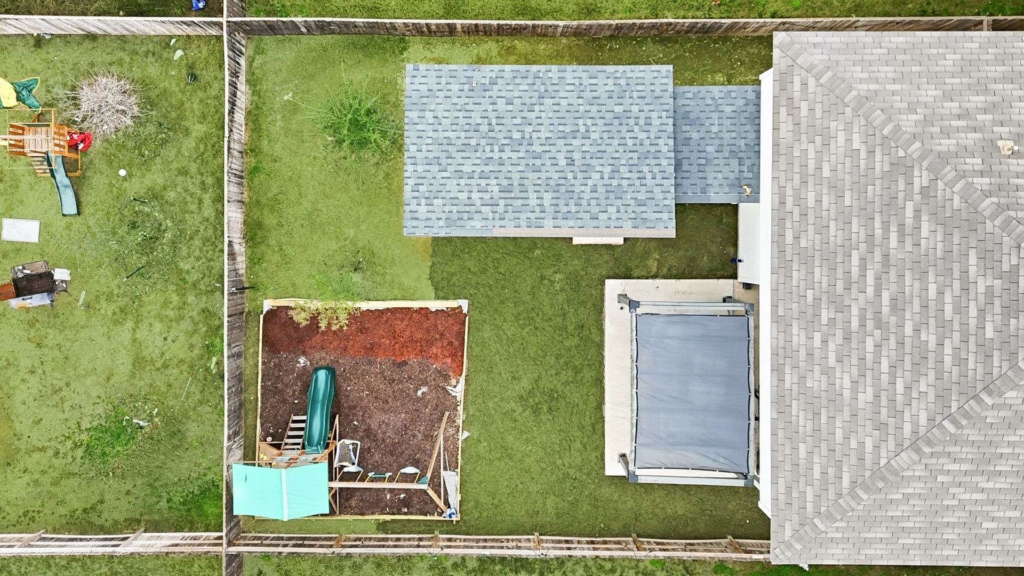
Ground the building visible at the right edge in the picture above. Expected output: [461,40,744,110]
[737,28,1024,567]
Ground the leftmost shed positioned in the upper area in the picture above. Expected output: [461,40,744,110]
[404,65,676,237]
